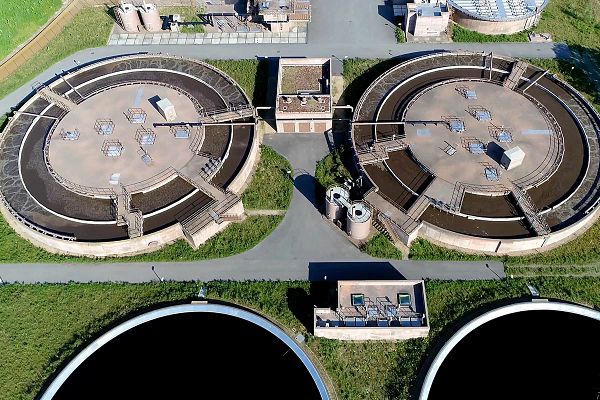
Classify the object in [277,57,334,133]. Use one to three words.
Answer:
building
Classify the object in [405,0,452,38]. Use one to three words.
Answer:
building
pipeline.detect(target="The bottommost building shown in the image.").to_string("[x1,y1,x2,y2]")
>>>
[314,281,430,338]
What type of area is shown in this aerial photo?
industrial area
